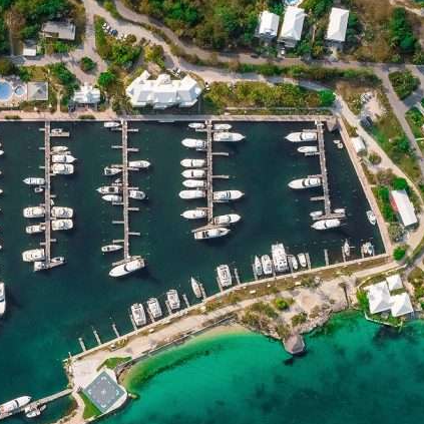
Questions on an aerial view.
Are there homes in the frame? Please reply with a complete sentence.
Yes, a home can be made out from above.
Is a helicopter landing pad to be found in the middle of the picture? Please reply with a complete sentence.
No, there is no helicopter landing pad in the middle of the picture.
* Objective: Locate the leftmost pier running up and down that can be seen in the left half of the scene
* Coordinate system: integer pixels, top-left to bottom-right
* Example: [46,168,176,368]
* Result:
[35,122,71,269]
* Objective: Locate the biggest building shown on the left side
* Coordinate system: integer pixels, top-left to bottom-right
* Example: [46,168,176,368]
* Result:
[126,71,202,111]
